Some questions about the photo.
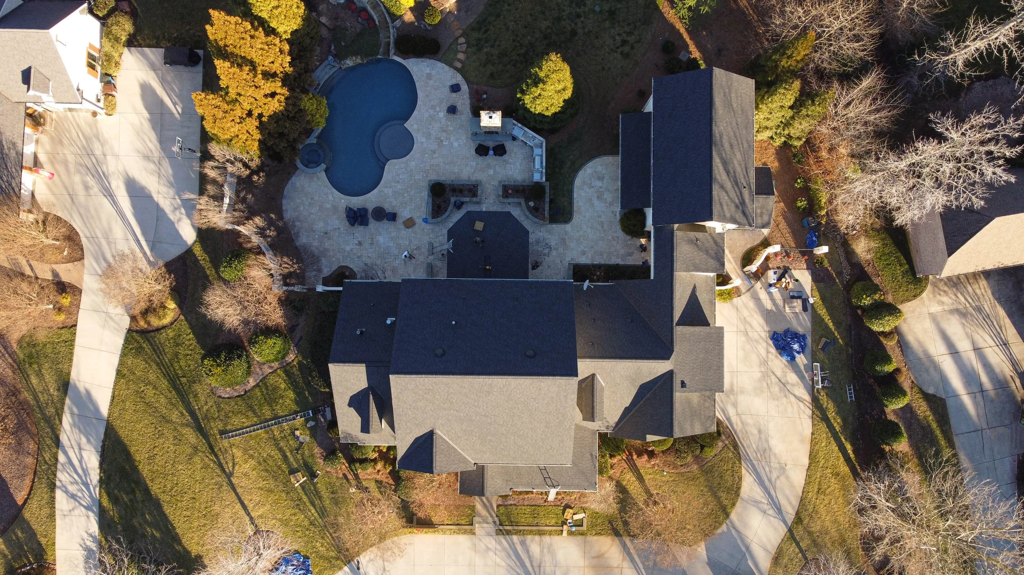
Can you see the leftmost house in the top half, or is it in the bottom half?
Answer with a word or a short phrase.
top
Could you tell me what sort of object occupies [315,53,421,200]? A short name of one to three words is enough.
swimming pool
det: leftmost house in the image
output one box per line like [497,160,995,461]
[0,1,104,213]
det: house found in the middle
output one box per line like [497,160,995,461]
[328,67,778,500]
